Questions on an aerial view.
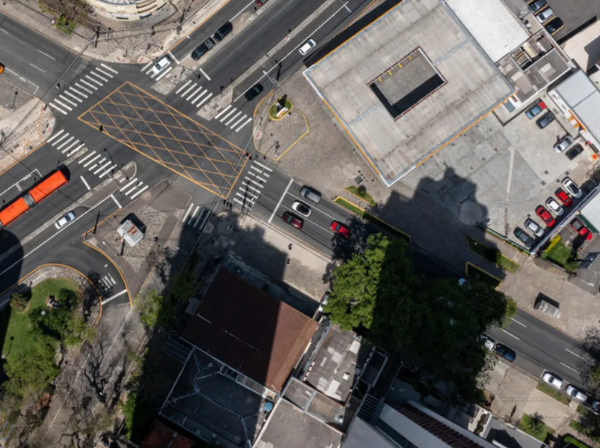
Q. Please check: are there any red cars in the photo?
Yes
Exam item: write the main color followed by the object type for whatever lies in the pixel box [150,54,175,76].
white car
